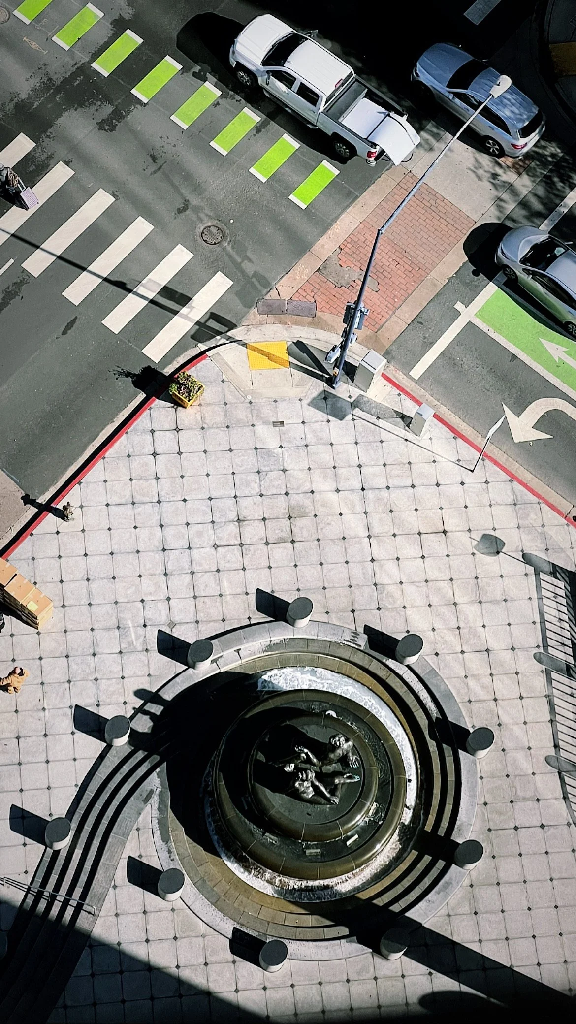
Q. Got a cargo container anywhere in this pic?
No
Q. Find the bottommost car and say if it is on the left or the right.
right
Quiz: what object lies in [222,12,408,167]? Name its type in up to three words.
truck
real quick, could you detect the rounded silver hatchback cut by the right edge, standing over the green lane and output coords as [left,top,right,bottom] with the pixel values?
[495,223,576,336]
